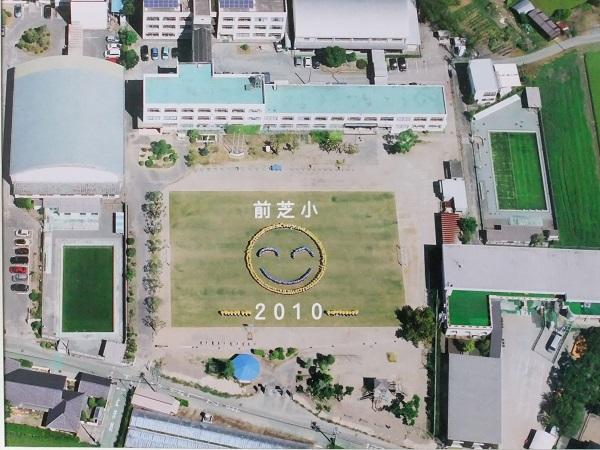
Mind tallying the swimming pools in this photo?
two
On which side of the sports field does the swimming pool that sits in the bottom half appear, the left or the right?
to the left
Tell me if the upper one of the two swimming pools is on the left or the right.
right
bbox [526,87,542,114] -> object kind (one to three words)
shed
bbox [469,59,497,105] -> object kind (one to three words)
building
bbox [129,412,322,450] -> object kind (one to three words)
greenhouse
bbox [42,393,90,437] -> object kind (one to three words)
house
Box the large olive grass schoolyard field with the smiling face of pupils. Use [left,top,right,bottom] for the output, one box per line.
[169,191,405,327]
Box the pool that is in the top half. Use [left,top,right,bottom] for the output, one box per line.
[472,104,554,230]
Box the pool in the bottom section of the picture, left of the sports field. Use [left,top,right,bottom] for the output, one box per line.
[45,232,124,347]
